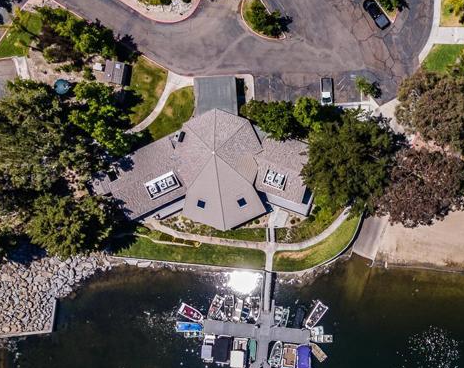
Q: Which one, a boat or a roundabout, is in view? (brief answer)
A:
boat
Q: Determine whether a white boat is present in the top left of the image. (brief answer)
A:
No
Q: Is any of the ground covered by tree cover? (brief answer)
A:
Yes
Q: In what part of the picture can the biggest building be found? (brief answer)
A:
center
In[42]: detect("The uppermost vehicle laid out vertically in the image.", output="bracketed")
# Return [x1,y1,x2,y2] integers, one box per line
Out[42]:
[319,74,333,107]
